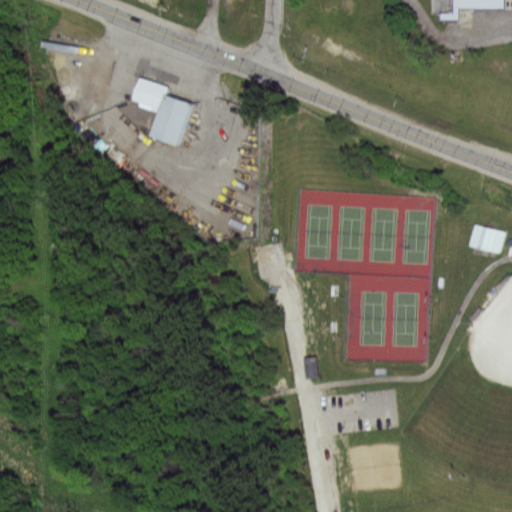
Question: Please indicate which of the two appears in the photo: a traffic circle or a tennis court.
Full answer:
It is a tennis court that can be seen here.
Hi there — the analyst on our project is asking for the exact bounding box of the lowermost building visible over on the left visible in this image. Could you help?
[150,96,194,146]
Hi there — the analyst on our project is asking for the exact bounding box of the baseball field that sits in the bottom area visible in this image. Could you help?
[400,274,512,485]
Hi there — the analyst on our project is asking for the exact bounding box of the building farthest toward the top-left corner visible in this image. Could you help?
[132,76,170,113]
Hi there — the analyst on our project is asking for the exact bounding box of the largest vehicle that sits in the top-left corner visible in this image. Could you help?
[39,42,91,54]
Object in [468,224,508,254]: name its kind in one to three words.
shed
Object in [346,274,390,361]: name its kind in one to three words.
tennis court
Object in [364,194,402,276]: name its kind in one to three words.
tennis court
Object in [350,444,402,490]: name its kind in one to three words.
sports court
